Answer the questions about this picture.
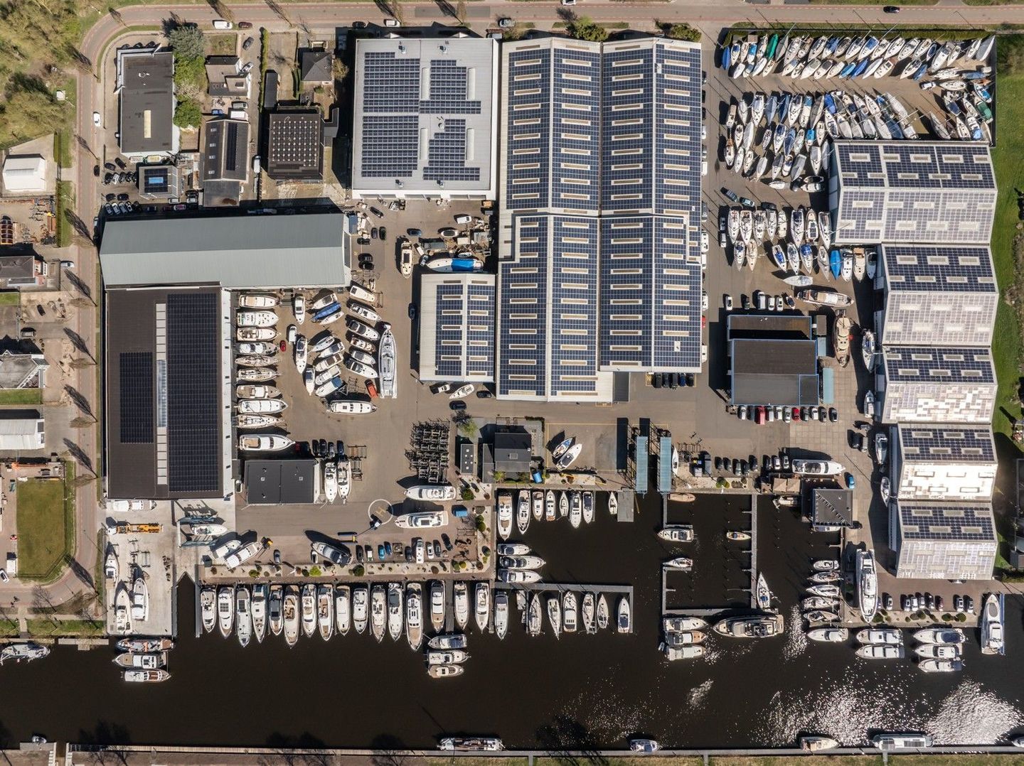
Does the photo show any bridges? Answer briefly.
No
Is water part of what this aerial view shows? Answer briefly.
Yes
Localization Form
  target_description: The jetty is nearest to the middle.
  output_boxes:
[618,491,634,522]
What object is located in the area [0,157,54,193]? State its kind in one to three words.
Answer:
barn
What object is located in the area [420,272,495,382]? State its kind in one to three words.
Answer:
building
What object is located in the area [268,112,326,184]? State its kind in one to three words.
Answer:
house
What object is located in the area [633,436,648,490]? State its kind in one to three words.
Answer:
shed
